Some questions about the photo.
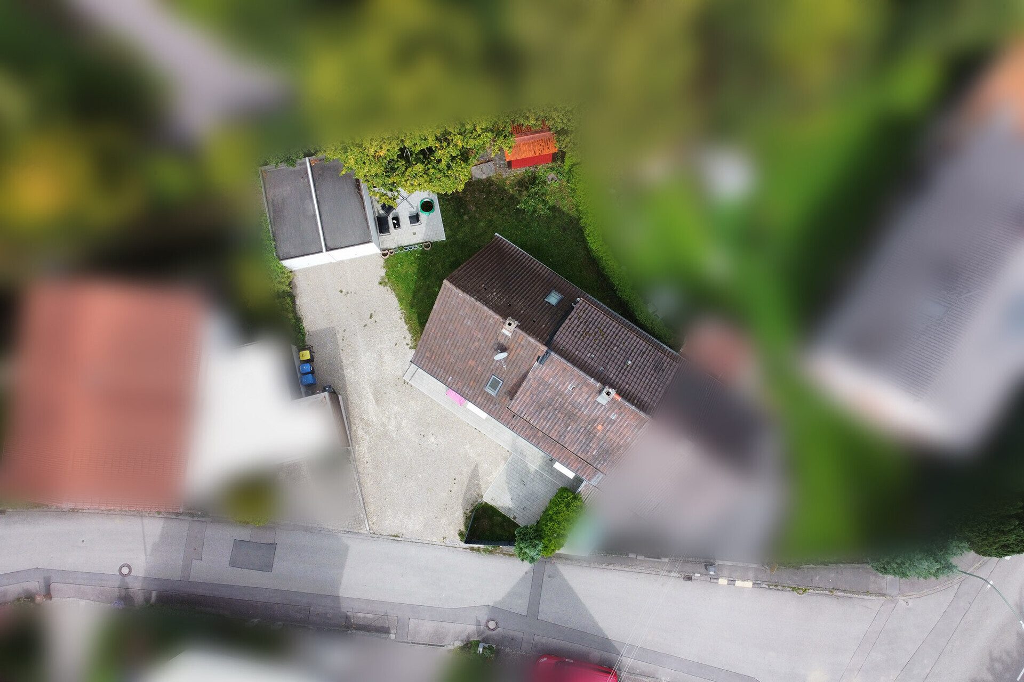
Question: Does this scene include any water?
No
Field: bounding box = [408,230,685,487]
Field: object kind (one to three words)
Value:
house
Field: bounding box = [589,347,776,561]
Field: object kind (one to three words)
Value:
house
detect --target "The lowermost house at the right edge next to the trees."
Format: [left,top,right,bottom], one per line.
[795,108,1024,458]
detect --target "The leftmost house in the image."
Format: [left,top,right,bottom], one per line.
[5,274,228,513]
